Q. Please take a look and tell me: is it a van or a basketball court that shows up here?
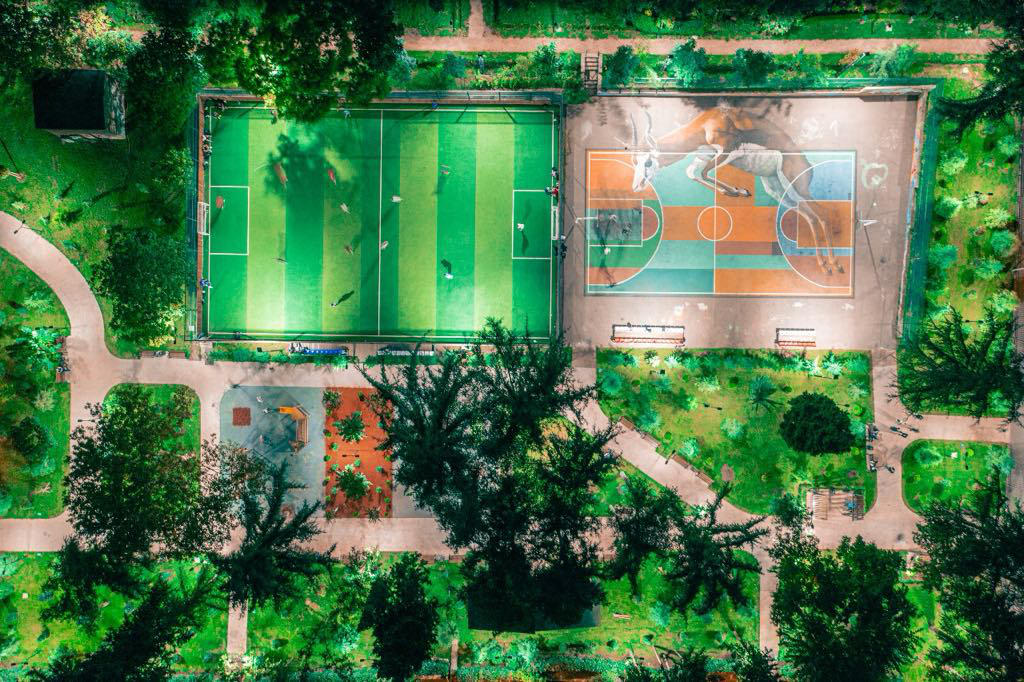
basketball court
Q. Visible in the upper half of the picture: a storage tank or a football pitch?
football pitch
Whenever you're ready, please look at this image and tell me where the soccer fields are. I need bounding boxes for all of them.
[203,101,560,342]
